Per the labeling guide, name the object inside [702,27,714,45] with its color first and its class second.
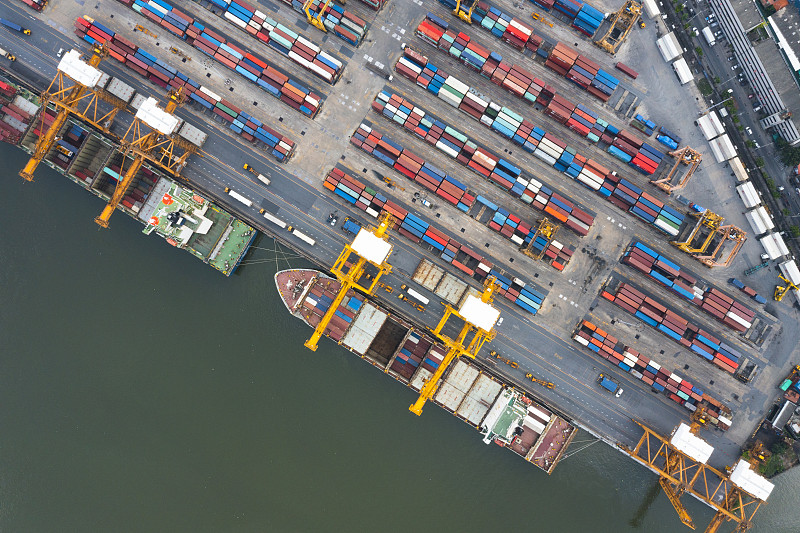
white vehicle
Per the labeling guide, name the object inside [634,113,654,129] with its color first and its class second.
blue work vehicle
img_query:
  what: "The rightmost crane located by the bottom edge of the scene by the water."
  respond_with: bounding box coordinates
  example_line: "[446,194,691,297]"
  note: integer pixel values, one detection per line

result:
[671,441,773,533]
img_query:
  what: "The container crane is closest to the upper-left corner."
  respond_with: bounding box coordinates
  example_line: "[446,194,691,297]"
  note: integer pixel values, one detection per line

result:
[16,39,138,182]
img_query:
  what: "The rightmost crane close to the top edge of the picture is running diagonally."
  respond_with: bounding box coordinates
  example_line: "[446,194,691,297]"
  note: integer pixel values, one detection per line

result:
[595,0,647,59]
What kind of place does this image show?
port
